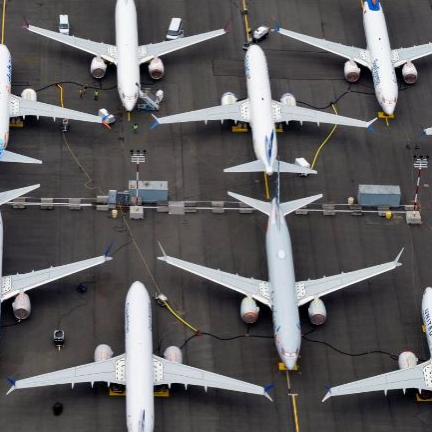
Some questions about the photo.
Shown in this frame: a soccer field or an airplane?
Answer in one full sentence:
There is an airplane in the scene.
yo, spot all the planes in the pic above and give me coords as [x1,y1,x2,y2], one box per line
[272,0,432,114]
[322,285,432,406]
[4,280,276,432]
[20,0,234,113]
[0,44,113,165]
[151,43,380,179]
[0,185,115,321]
[157,157,406,370]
